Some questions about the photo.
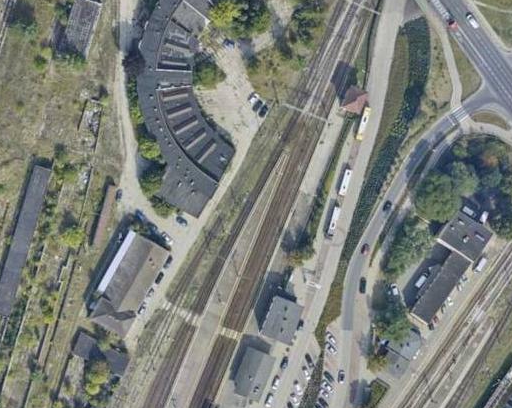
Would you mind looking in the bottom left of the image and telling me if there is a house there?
Yes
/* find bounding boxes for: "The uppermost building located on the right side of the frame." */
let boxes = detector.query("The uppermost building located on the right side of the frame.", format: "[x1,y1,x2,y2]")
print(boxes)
[341,85,367,114]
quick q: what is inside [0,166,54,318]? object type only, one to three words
shed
